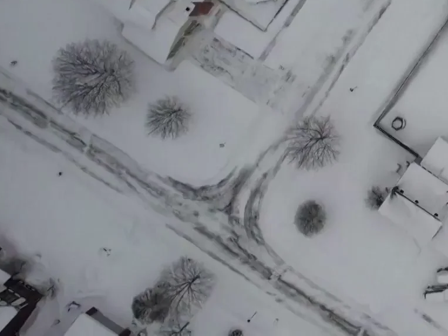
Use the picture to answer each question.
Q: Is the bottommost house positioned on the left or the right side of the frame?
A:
left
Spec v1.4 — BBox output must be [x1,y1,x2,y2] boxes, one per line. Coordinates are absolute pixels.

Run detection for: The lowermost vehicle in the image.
[423,287,448,304]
